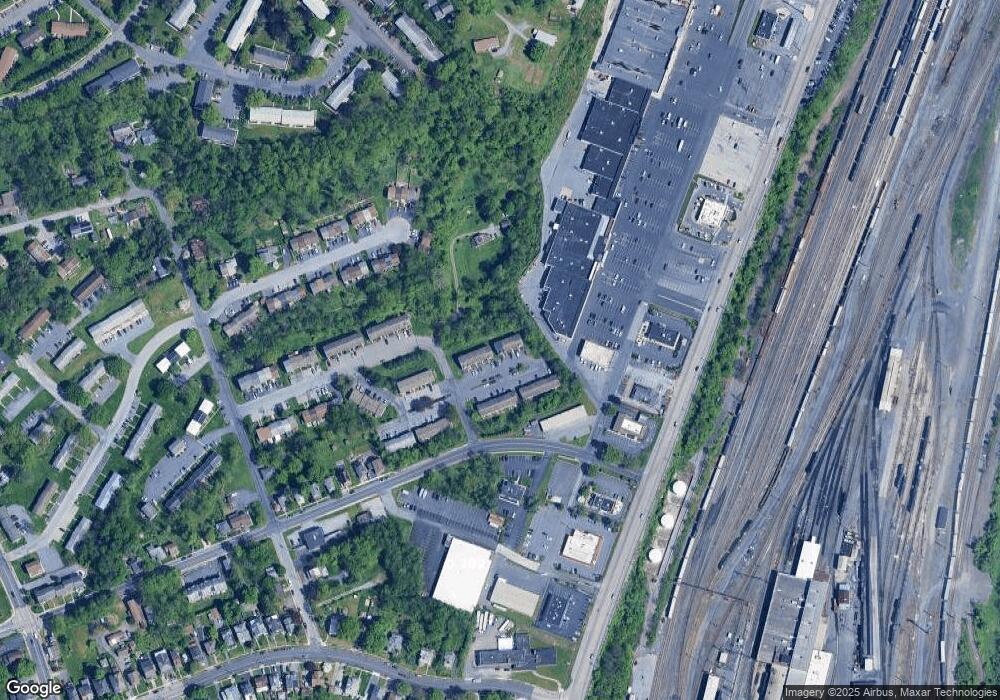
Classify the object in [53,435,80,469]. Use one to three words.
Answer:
building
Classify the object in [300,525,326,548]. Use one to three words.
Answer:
house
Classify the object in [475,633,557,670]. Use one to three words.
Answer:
building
